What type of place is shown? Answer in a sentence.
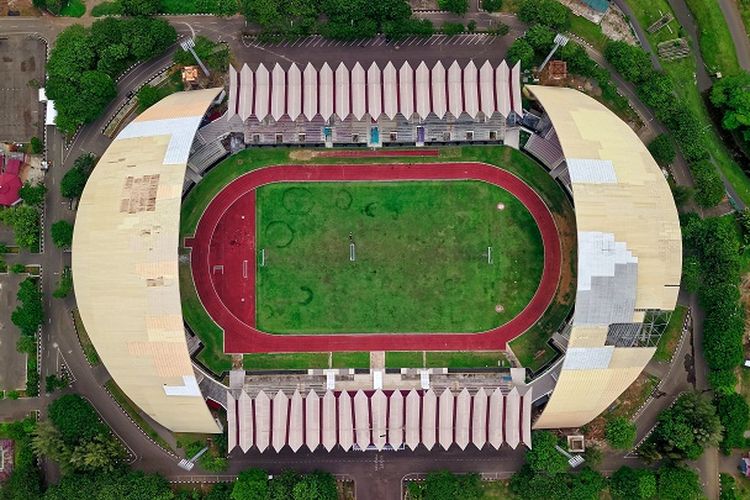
The area seen from above is a sports ground.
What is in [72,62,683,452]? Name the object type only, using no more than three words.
stadium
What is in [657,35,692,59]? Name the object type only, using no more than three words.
building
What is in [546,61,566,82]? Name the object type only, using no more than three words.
building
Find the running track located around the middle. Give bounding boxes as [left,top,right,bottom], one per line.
[185,162,562,354]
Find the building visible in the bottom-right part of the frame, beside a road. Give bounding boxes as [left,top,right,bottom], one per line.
[563,433,584,452]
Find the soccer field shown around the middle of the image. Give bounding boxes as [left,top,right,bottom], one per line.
[256,181,545,335]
